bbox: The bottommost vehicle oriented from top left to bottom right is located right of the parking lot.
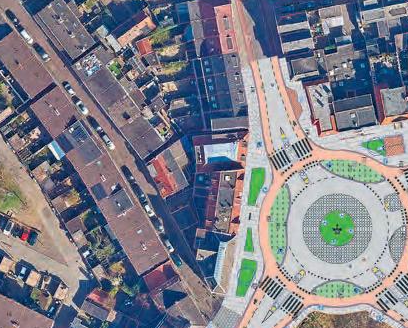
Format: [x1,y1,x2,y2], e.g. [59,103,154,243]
[171,252,183,268]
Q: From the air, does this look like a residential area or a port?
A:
residential area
